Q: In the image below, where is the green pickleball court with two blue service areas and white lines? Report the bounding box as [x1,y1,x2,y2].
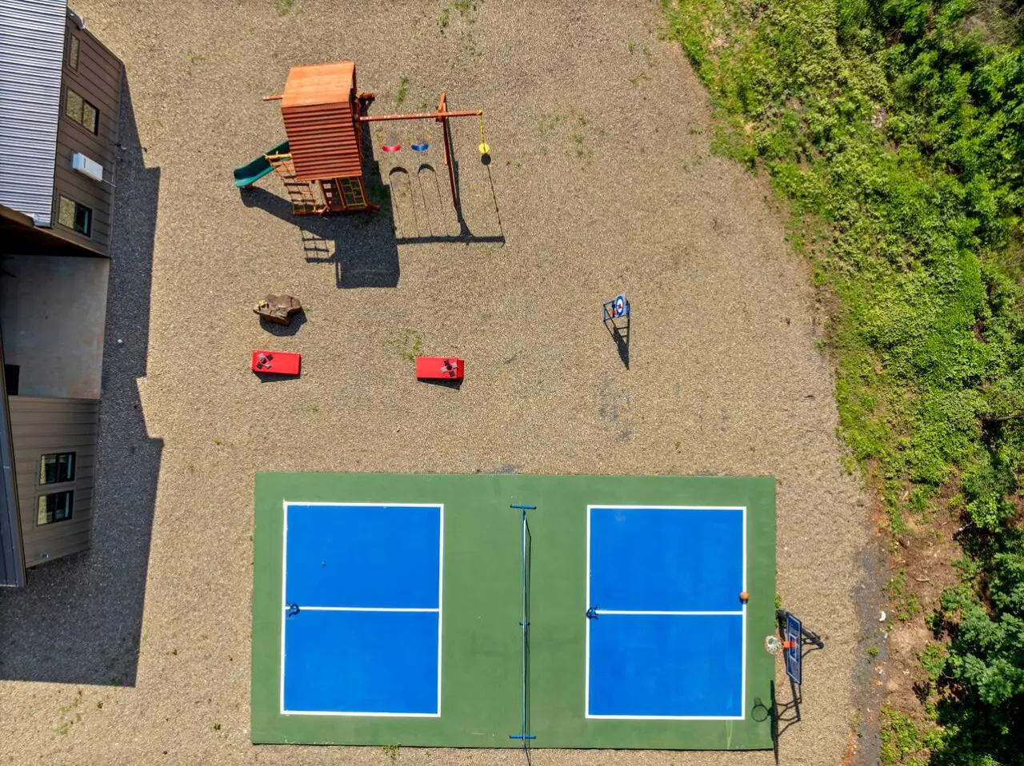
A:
[250,472,777,751]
